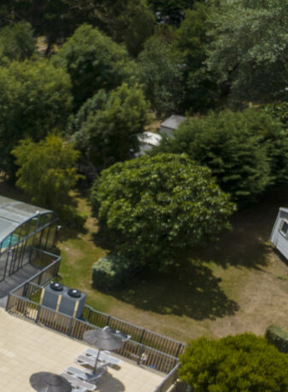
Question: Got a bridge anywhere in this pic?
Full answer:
No, the picture doesn't show any bridge.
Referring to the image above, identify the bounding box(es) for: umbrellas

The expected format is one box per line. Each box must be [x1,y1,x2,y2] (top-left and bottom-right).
[28,374,76,392]
[83,329,128,373]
